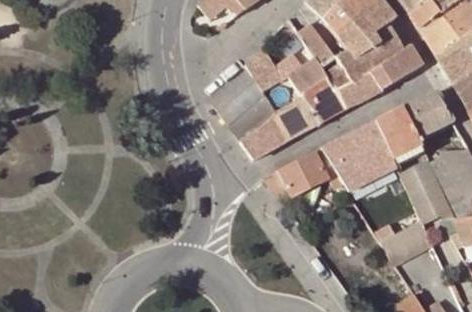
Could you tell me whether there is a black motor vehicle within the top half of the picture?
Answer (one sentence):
No, I see no black motor vehicle within the top half of the picture.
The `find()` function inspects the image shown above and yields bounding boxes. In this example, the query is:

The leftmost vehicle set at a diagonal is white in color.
[201,78,223,98]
